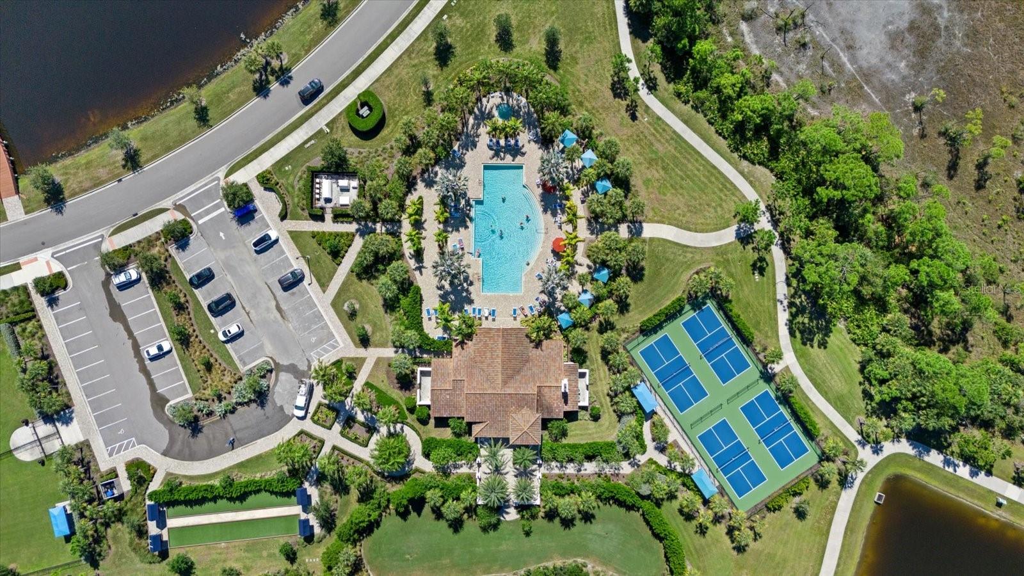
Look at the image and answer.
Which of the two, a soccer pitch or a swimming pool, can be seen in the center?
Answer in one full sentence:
The feature located in the center is a swimming pool.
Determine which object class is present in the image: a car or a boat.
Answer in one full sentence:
Looking from above, you can make out a car.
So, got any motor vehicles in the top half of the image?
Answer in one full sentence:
Yes, a motor vehicle shows up in the top half of the image.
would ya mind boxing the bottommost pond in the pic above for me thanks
[853,473,1024,576]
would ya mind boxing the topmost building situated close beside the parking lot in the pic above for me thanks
[417,326,588,445]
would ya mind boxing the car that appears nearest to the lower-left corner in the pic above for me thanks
[141,342,170,358]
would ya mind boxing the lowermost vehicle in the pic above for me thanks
[291,381,310,418]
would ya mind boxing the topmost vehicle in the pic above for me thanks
[296,79,323,101]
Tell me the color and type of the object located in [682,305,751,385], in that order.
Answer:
blue sports court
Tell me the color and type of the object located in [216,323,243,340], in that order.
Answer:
white car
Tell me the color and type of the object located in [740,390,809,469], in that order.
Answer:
blue sports court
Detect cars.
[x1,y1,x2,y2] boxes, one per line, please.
[141,342,170,358]
[216,323,243,340]
[206,294,234,314]
[229,202,256,219]
[187,267,213,285]
[250,231,277,251]
[275,269,304,289]
[296,79,323,101]
[109,269,139,287]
